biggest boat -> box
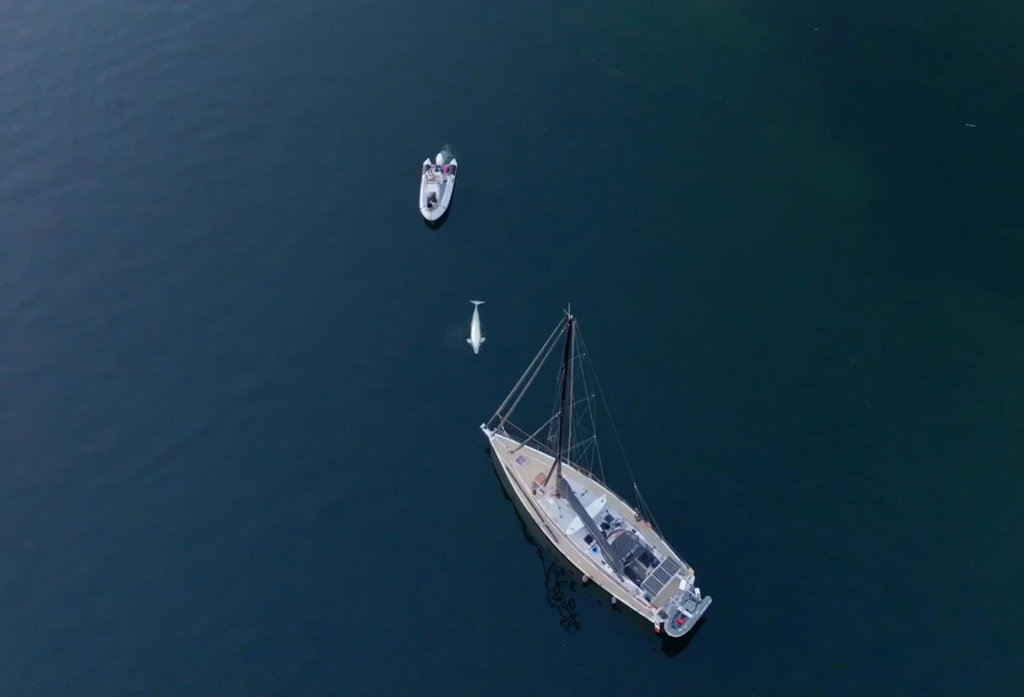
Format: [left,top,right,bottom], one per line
[477,307,701,628]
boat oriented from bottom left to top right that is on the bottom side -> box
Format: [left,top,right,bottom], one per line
[663,590,714,636]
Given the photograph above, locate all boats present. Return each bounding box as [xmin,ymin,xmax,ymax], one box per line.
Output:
[420,152,457,220]
[663,590,714,636]
[477,307,701,628]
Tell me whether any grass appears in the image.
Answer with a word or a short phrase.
No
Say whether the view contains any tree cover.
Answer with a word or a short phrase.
No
